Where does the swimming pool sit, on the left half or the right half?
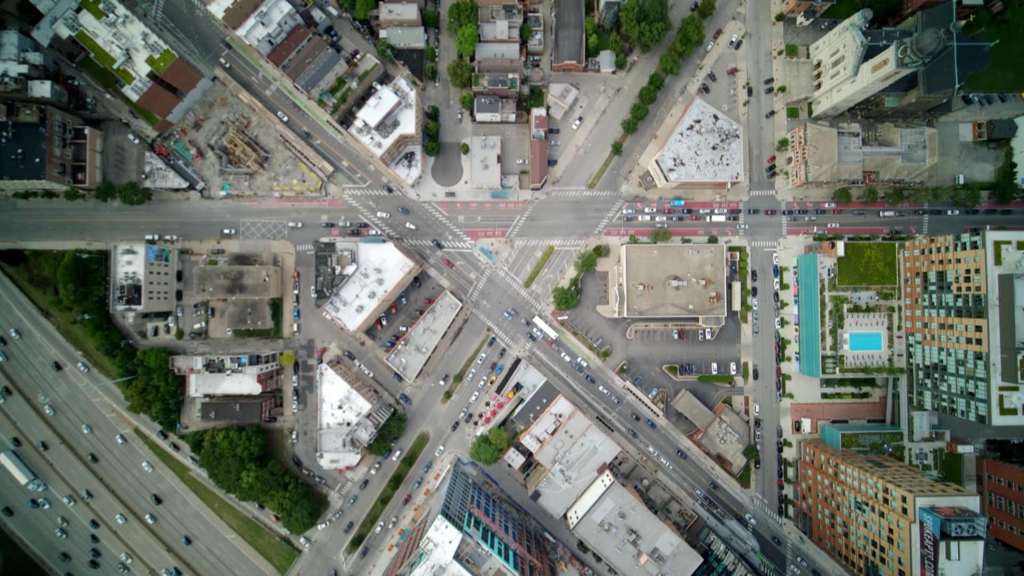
right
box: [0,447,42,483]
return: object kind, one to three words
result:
truck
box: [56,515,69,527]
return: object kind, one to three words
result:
vehicle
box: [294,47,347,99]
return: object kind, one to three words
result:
house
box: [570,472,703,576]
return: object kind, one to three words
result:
building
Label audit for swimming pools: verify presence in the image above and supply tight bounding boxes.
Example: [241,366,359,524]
[842,330,884,352]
